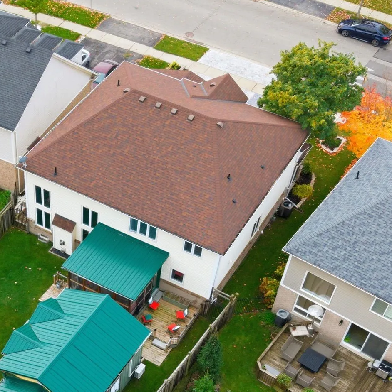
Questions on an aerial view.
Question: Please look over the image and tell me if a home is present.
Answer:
Yes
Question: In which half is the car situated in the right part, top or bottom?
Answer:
top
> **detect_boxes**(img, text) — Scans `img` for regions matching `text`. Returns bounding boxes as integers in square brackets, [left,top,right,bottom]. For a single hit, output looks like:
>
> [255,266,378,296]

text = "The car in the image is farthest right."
[336,16,392,47]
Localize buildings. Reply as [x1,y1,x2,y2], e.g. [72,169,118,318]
[14,63,311,304]
[274,143,392,360]
[0,287,152,392]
